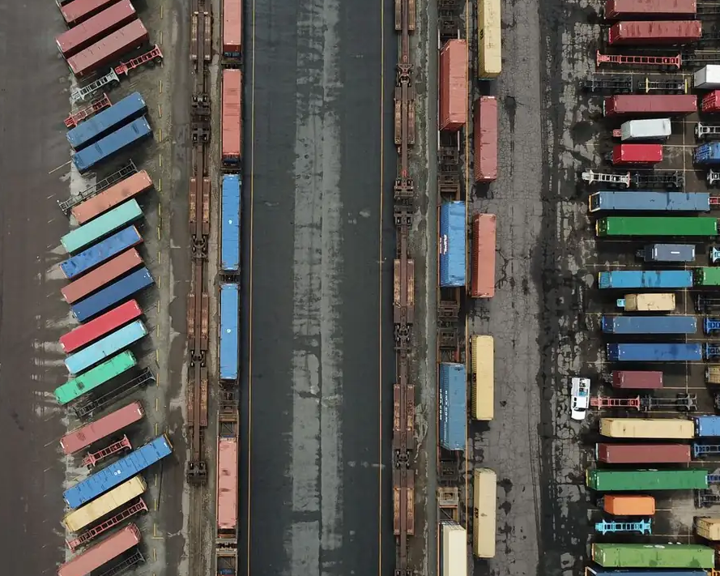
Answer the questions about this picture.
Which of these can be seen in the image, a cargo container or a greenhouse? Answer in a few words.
cargo container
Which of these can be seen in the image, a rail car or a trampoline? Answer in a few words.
rail car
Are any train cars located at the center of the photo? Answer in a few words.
Yes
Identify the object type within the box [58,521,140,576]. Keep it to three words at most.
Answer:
shipping container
